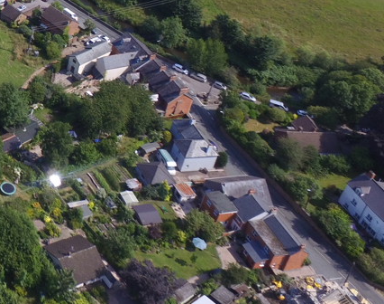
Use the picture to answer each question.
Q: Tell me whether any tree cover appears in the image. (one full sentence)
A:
Yes, there is tree cover in the image.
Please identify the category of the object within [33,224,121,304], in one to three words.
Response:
house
